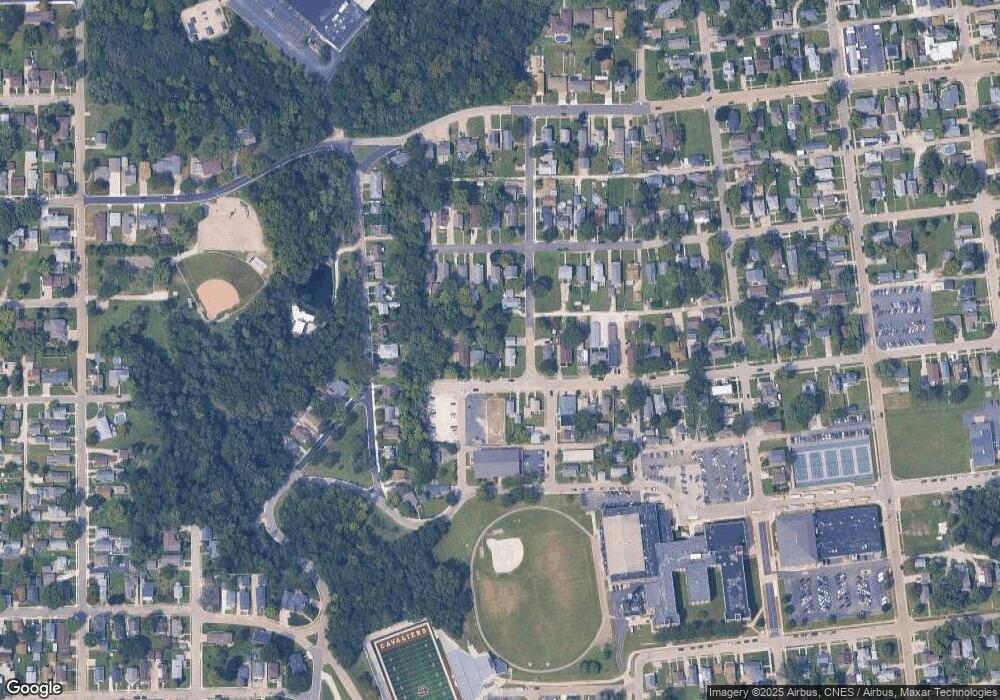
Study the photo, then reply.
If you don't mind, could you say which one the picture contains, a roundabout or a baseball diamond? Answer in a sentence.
Of the two, only a baseball diamond appears.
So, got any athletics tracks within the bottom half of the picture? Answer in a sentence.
Yes, the scene does show an athletics track within the bottom half of the picture.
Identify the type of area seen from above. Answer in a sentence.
This looks like a residential area.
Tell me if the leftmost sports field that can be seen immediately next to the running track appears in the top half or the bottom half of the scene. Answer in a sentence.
You can find the leftmost sports field that can be seen immediately next to the running track in the bottom half.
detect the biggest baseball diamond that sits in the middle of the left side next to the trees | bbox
[177,252,265,320]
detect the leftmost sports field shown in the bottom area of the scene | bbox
[370,619,460,700]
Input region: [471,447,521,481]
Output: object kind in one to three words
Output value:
building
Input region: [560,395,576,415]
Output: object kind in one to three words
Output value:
house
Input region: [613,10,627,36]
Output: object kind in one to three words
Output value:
house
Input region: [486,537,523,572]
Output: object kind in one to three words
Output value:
baseball field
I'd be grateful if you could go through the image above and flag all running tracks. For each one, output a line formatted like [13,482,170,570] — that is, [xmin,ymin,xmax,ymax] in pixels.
[471,506,604,672]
